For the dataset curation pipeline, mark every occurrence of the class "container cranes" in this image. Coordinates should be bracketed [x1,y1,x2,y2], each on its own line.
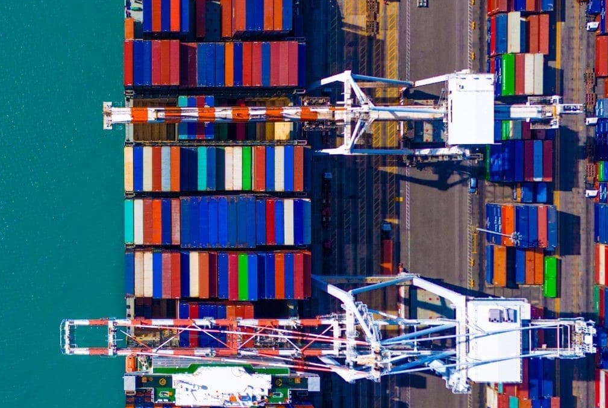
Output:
[103,70,582,168]
[57,255,599,394]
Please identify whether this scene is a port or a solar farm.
port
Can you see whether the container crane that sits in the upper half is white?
Yes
